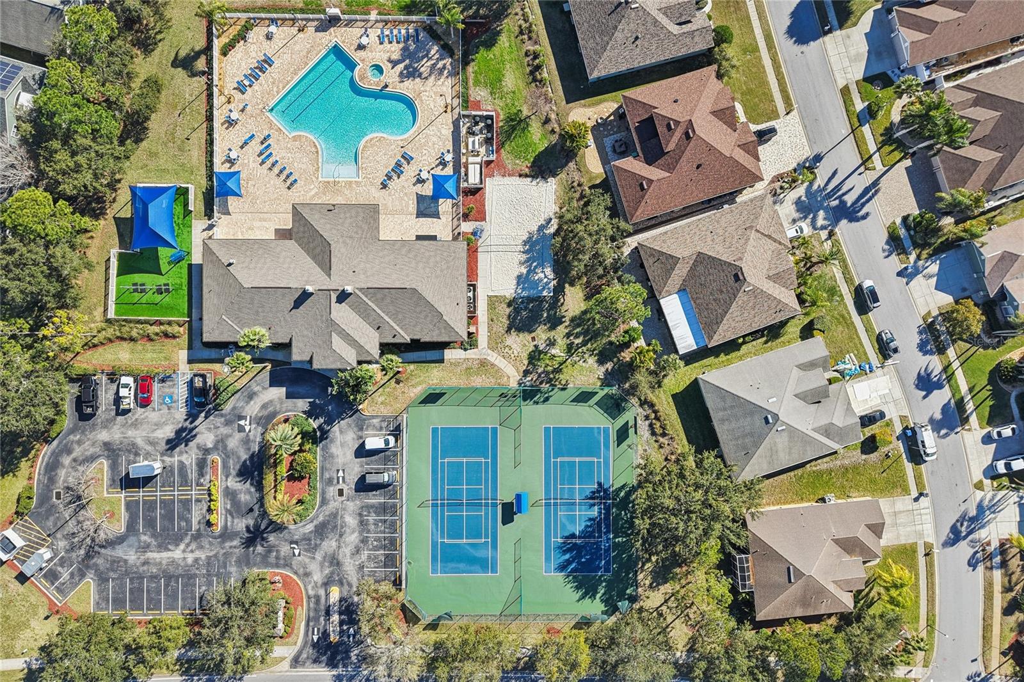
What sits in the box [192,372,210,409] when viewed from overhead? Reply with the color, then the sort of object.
black vehicle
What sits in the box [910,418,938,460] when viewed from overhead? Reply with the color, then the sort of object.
white vehicle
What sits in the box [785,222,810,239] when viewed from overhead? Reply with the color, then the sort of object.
white car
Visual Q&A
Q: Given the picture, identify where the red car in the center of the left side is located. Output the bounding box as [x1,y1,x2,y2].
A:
[138,376,155,405]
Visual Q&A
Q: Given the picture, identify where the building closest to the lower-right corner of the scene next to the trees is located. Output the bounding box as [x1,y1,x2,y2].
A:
[737,498,885,620]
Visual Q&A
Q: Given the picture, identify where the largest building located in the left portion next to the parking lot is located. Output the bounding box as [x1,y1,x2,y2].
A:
[202,204,467,368]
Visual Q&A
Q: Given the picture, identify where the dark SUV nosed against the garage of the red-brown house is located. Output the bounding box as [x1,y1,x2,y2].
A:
[753,124,780,142]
